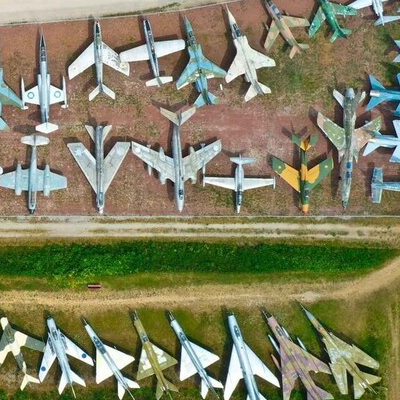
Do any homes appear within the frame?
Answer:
No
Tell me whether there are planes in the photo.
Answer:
Yes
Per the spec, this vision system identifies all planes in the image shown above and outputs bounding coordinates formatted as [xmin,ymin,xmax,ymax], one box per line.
[225,6,276,100]
[275,135,334,214]
[135,108,225,212]
[69,21,130,100]
[225,312,280,400]
[372,169,400,204]
[22,33,68,133]
[69,125,130,215]
[348,0,395,26]
[0,135,66,214]
[167,314,224,398]
[120,18,182,86]
[301,306,382,398]
[267,311,334,400]
[310,0,358,42]
[0,316,45,390]
[203,155,275,213]
[367,75,400,117]
[131,313,177,400]
[264,0,310,58]
[177,16,226,107]
[81,319,139,399]
[38,316,93,394]
[365,122,400,165]
[316,86,379,209]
